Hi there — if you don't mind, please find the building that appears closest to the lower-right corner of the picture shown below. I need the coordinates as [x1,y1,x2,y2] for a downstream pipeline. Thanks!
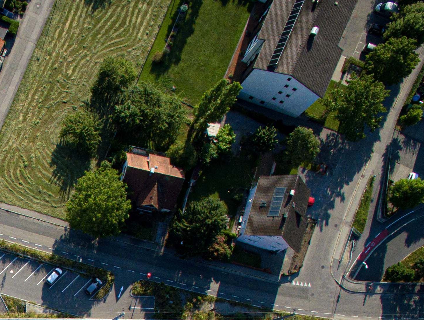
[239,178,315,253]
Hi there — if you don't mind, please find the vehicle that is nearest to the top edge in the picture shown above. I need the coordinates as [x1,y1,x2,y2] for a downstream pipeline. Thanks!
[374,2,398,15]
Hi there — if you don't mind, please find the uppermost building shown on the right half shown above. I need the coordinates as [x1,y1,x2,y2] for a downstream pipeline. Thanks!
[238,0,359,113]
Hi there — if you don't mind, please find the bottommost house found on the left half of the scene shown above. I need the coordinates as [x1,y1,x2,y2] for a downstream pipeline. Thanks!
[117,146,185,215]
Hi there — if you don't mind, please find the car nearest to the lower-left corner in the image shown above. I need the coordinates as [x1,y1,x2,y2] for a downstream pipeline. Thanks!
[46,267,63,286]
